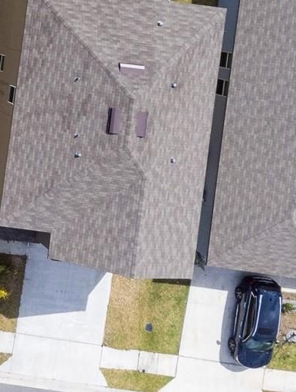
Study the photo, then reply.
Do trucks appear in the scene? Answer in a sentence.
No, I can't see a single truck in this photo.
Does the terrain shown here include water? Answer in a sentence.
No, there is no water in the image.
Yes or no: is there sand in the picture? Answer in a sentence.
No, no sand is visible.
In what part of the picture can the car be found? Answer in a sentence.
The car is in the bottom right part of the image.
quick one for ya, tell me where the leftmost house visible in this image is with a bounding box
[0,0,228,281]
